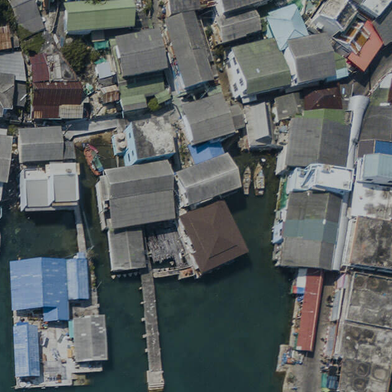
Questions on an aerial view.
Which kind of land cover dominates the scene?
buildings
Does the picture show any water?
Yes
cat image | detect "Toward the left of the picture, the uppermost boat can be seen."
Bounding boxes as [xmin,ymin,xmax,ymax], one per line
[83,141,102,179]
